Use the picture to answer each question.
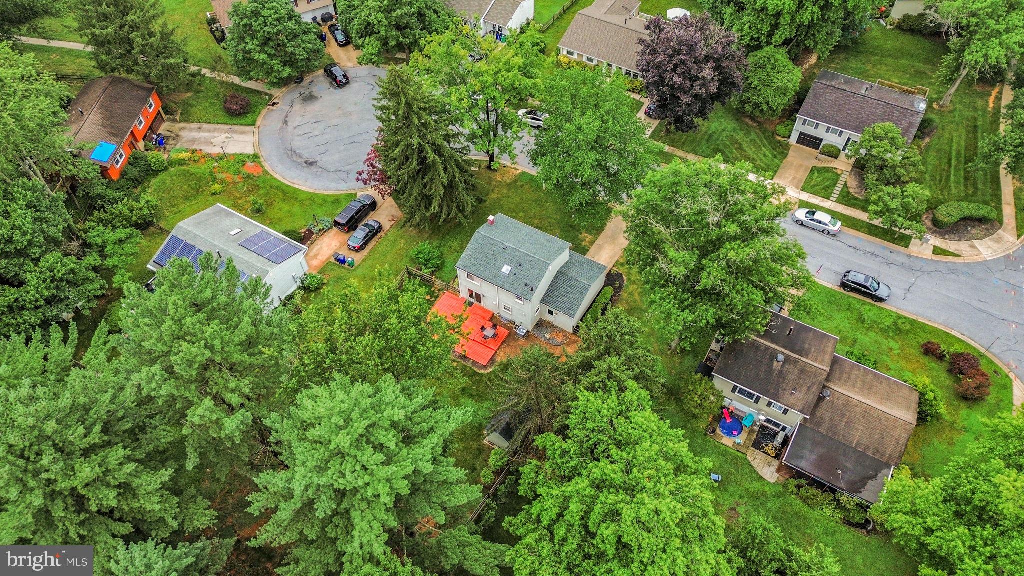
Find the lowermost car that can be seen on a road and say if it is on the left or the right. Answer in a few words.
right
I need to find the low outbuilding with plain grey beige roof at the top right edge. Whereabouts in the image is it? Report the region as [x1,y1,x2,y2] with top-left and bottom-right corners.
[885,0,927,33]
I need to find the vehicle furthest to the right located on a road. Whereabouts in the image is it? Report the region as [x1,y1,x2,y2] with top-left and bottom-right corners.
[840,269,892,303]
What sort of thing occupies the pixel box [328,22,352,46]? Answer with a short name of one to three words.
car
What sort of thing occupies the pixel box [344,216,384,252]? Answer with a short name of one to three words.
car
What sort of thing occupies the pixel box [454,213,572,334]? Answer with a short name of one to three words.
house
